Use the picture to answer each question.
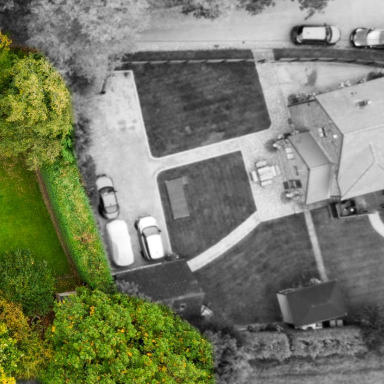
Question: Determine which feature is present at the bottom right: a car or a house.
house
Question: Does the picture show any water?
No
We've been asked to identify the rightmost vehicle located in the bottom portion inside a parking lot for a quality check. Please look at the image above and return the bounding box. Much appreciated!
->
[135,214,166,262]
